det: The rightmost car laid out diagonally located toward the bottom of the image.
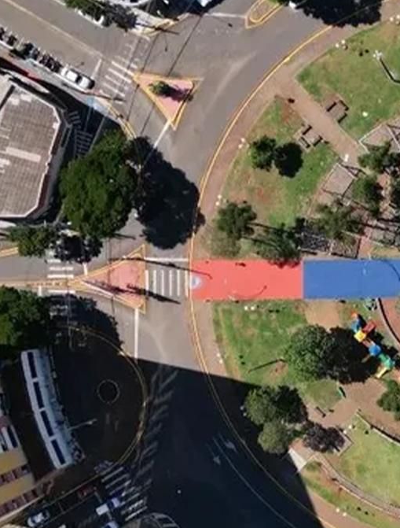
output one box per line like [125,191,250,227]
[92,496,123,519]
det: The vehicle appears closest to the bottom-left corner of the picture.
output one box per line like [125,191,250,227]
[22,507,53,528]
